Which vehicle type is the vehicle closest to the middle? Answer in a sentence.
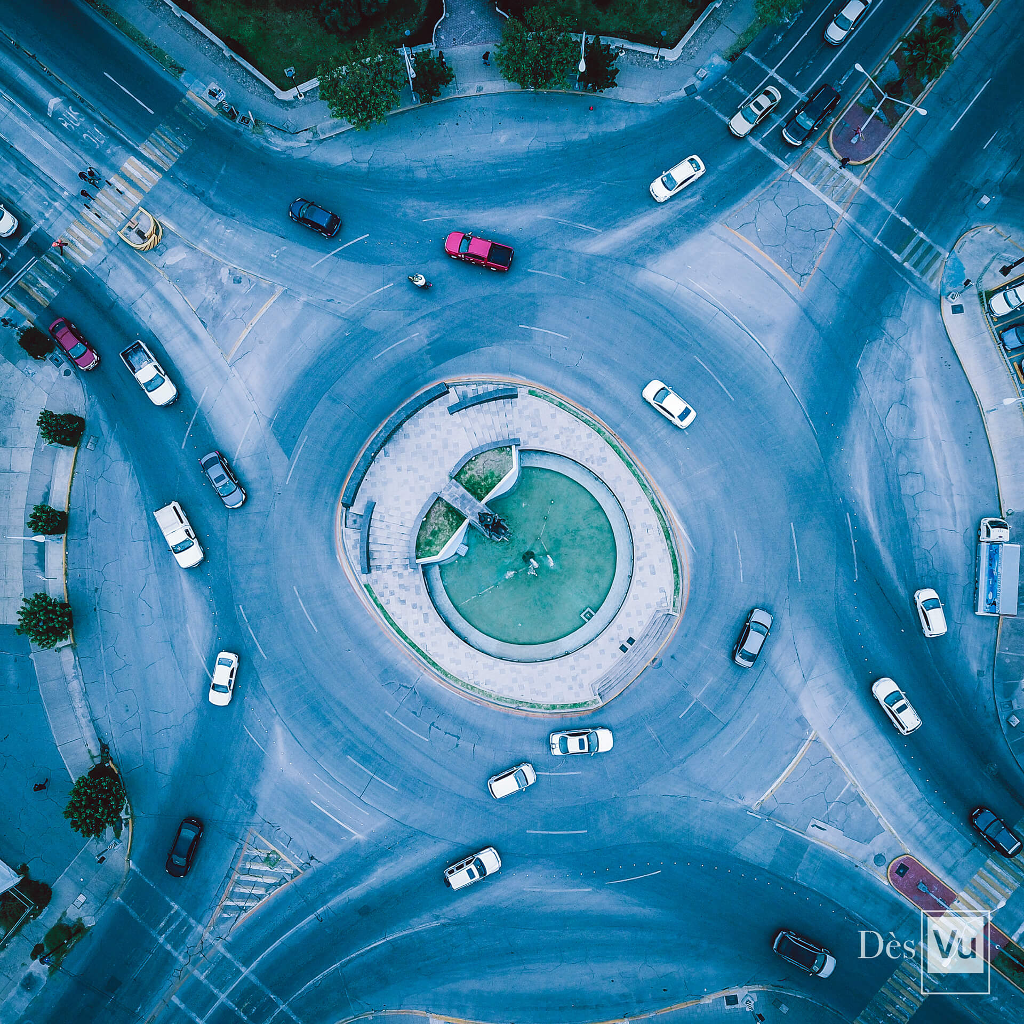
Looking closely, the vehicle closest to the middle is a car.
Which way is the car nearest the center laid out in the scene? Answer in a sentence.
The car nearest the center has been laid out at an angle relative to the frame.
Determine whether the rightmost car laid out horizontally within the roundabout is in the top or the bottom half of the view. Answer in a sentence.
It is in the bottom half that the rightmost car laid out horizontally within the roundabout appears.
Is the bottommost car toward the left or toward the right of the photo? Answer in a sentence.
The bottommost car appears in the right half of the scene.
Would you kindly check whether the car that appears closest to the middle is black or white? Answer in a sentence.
In this view, the car that appears closest to the middle is white.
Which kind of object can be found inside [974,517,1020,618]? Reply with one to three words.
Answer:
truck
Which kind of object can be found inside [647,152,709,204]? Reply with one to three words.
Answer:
car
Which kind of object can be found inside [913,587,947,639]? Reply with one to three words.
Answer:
car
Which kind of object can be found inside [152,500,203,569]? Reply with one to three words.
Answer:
vehicle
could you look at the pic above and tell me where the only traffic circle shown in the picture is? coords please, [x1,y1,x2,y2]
[238,270,788,821]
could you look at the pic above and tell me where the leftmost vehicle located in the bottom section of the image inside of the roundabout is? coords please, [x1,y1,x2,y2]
[485,762,538,800]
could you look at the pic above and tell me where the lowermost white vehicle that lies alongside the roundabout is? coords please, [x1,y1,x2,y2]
[443,846,503,893]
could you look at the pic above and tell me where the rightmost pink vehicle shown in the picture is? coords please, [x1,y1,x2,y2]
[444,232,517,272]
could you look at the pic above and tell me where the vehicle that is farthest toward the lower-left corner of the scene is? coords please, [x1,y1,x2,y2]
[167,816,205,878]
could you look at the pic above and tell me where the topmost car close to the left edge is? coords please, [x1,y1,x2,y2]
[0,207,20,241]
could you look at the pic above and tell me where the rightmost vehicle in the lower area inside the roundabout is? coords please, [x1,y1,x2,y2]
[734,607,770,669]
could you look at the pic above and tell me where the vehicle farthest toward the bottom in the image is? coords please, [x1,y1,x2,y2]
[772,930,837,978]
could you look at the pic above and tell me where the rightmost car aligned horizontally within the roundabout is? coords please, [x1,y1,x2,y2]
[550,727,614,757]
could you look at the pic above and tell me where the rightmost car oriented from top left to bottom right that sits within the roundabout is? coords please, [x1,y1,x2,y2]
[640,378,700,431]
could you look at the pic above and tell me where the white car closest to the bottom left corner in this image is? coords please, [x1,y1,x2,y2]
[207,650,241,707]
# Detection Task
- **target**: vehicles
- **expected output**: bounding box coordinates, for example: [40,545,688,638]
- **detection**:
[997,321,1024,352]
[729,82,784,141]
[118,338,177,406]
[984,279,1024,319]
[872,675,924,739]
[443,846,503,893]
[48,314,100,372]
[0,207,20,241]
[485,762,538,800]
[772,930,837,978]
[824,0,869,48]
[287,198,344,238]
[152,500,203,569]
[784,79,840,148]
[734,607,770,669]
[444,232,517,272]
[167,816,205,878]
[913,587,947,639]
[647,152,709,204]
[640,378,700,431]
[200,448,246,510]
[550,727,614,757]
[974,517,1020,618]
[207,650,241,707]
